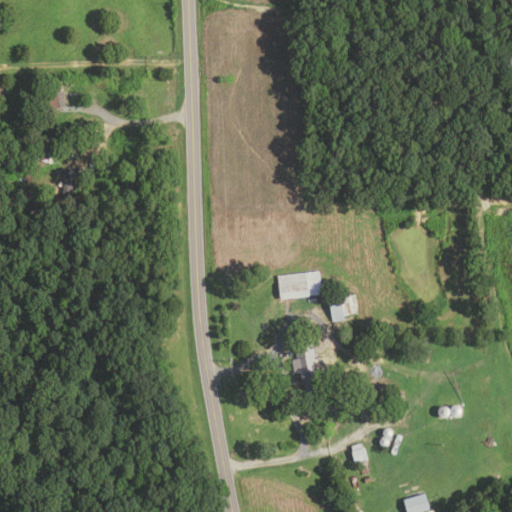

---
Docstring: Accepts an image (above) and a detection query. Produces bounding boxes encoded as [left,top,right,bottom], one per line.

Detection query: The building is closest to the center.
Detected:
[277,270,322,300]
